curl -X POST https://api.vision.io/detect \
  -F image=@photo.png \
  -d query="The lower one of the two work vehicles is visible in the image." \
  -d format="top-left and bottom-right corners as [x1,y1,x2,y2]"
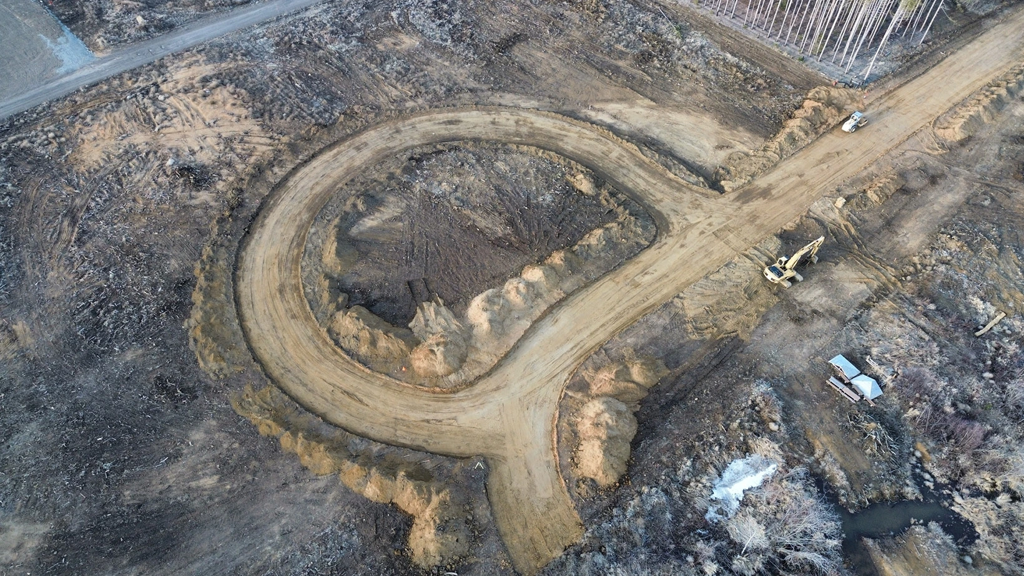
[763,233,828,296]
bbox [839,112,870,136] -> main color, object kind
white work vehicle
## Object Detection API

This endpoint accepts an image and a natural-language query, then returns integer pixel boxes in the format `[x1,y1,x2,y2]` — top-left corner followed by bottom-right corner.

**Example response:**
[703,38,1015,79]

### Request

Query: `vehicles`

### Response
[763,233,828,296]
[839,112,870,136]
